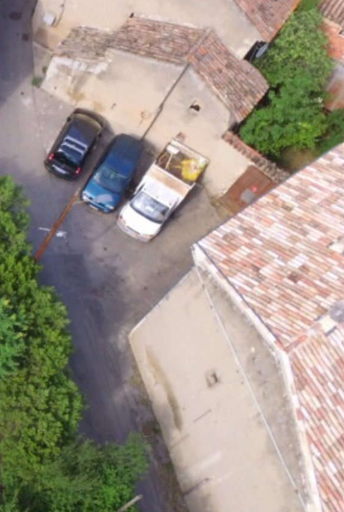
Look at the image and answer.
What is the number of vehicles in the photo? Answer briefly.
3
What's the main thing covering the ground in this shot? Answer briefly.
buildings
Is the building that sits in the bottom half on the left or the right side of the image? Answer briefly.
right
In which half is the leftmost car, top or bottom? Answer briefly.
top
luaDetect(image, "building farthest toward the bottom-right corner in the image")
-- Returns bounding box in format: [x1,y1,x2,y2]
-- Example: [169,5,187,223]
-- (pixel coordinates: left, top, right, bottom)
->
[128,142,344,512]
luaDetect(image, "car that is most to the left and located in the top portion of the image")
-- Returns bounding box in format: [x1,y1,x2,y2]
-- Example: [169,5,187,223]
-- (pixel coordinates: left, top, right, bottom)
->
[46,105,108,183]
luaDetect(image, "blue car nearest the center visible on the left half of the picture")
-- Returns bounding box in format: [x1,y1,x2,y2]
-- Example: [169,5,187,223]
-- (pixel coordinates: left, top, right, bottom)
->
[82,127,151,215]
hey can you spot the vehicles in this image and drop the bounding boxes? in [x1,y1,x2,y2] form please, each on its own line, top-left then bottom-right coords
[126,139,206,243]
[46,105,108,183]
[82,127,151,215]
